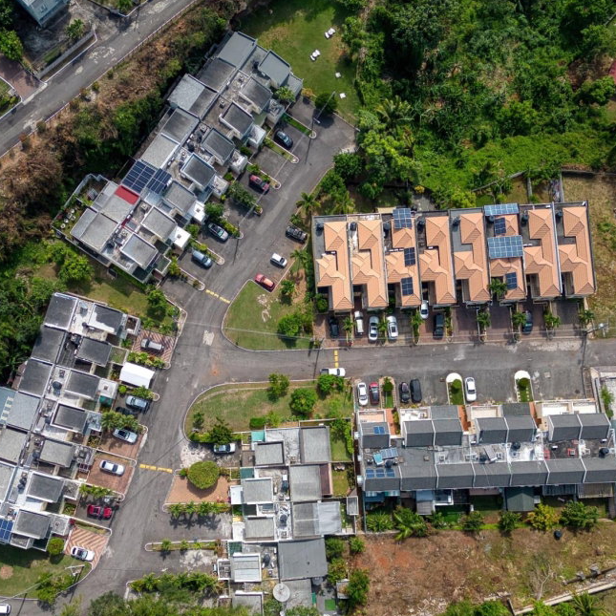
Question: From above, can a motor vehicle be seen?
Yes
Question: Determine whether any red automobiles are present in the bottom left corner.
Yes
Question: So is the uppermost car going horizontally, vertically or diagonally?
diagonally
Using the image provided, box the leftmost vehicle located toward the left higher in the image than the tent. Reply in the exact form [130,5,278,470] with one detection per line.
[141,337,165,353]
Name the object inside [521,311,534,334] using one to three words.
vehicle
